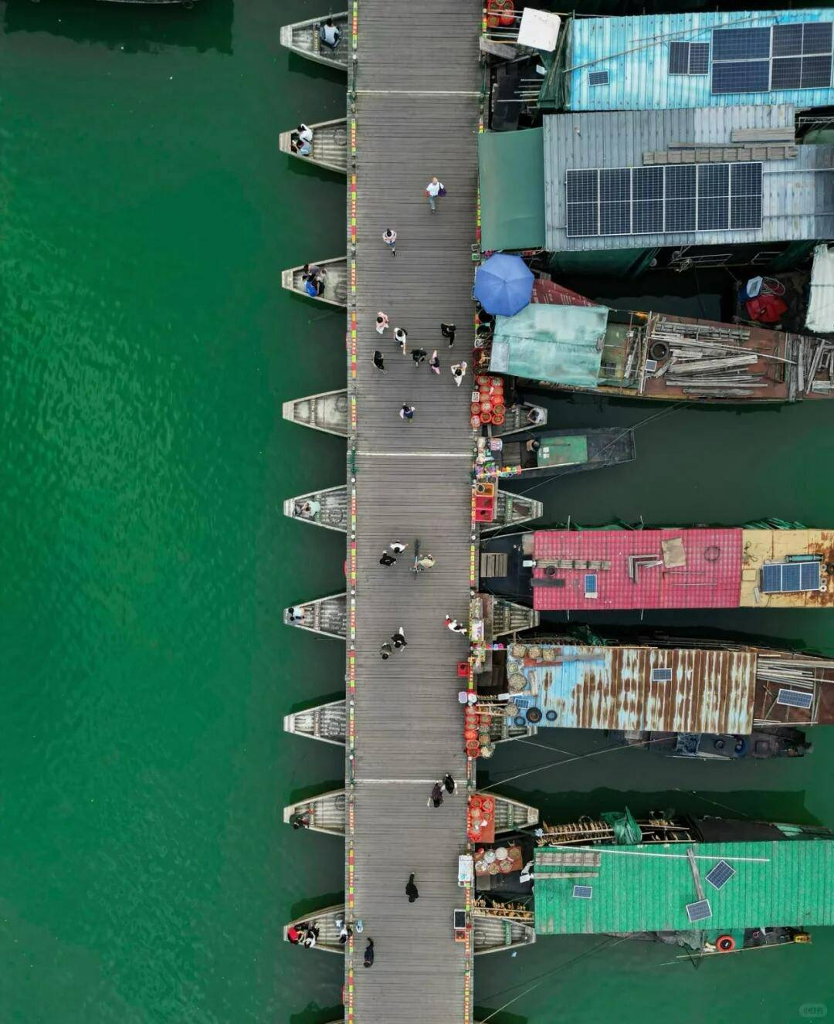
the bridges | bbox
[347,0,488,1024]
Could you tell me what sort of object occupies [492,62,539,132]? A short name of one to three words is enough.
boat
